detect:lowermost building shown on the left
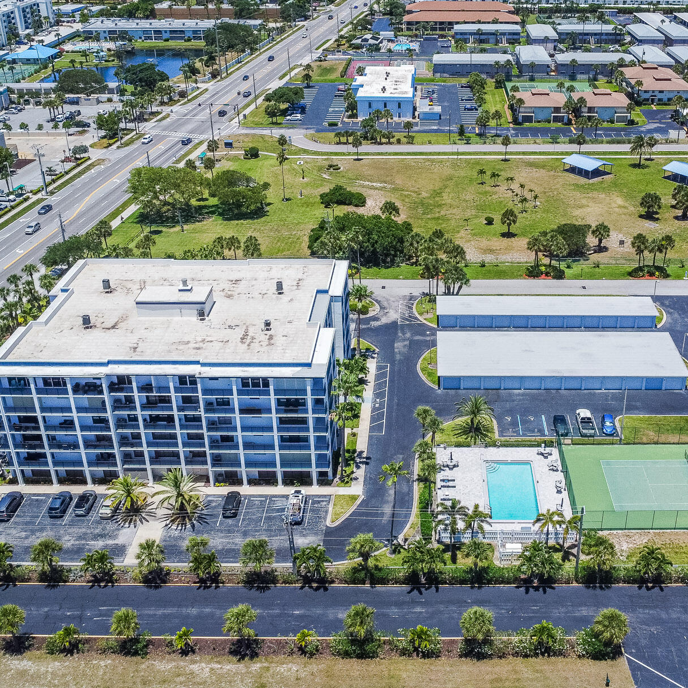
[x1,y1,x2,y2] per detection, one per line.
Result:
[0,254,354,486]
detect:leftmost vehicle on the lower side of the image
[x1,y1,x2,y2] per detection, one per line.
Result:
[0,493,22,519]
